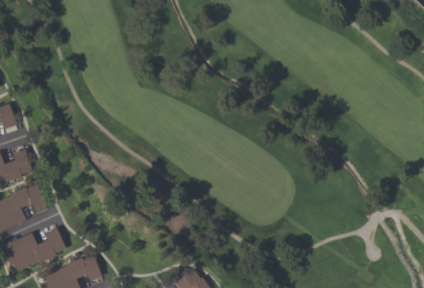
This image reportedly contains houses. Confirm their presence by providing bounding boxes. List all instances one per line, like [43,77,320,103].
[38,257,103,288]
[175,270,211,288]
[8,228,66,272]
[0,186,46,232]
[0,150,32,183]
[0,104,18,134]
